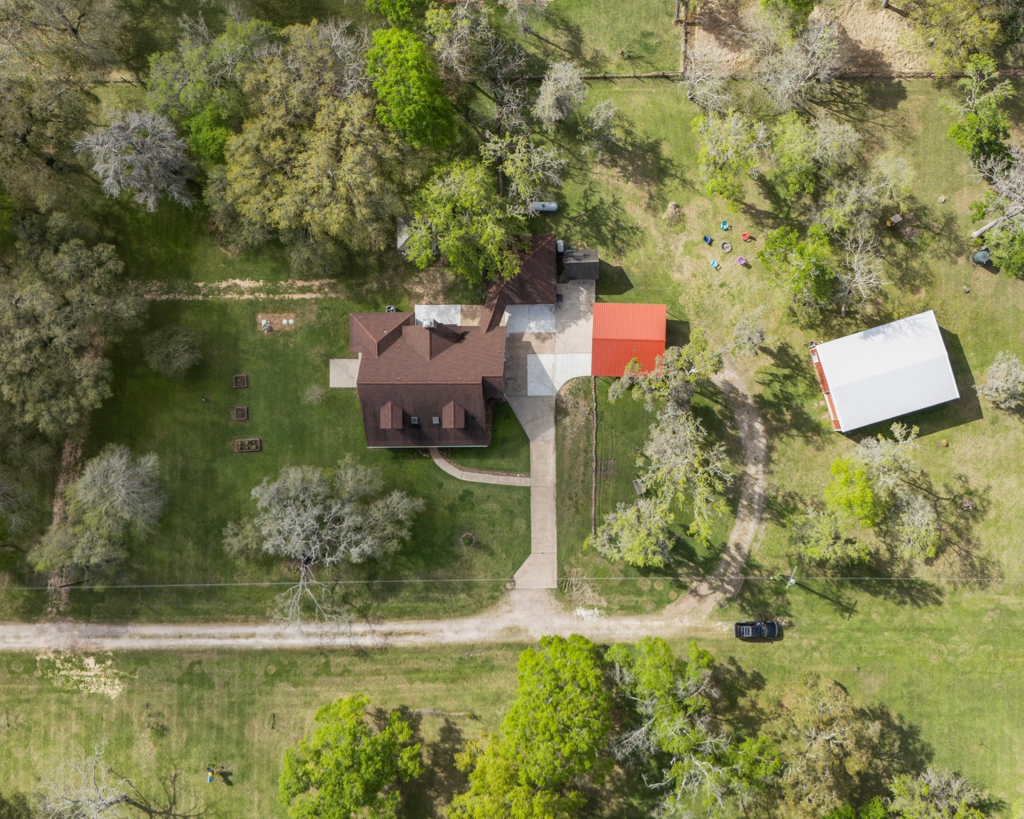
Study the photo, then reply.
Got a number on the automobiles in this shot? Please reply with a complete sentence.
I count 1 automobile.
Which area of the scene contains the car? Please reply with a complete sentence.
The car is located in the bottom right region of the scene.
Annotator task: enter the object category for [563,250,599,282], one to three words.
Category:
shed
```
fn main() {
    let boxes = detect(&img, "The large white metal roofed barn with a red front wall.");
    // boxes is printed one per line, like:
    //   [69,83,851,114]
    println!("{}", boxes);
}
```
[809,310,959,431]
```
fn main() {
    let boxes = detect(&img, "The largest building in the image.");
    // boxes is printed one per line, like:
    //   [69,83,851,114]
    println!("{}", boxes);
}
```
[350,234,556,448]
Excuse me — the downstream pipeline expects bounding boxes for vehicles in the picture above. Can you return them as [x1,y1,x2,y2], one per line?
[733,613,778,640]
